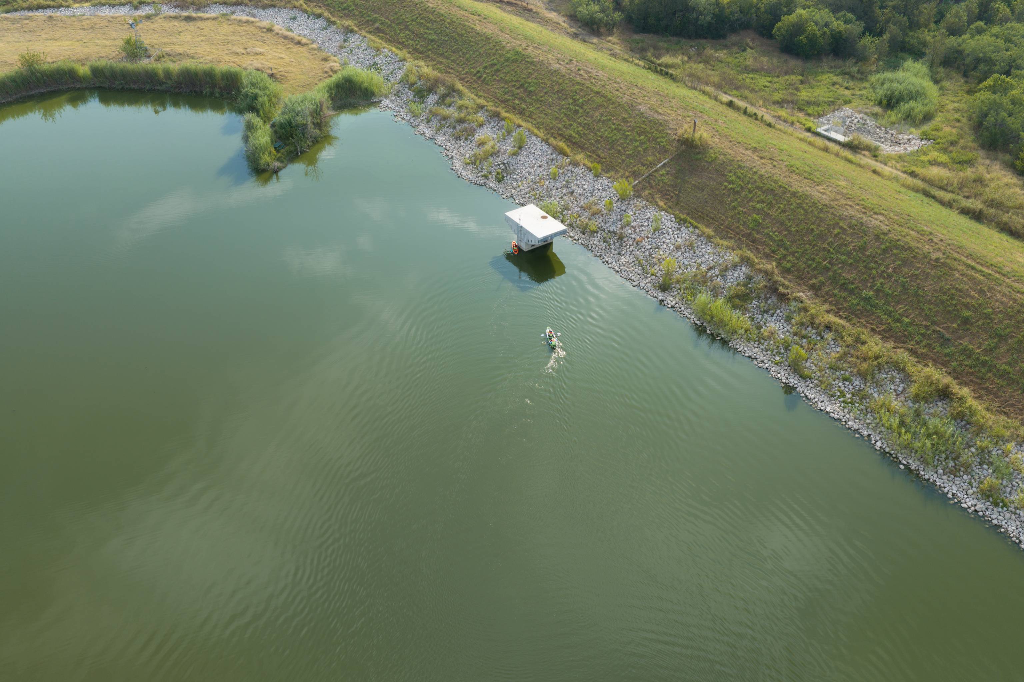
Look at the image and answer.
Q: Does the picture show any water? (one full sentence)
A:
Yes, there's water in this view.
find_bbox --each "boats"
[511,238,519,253]
[546,324,556,348]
